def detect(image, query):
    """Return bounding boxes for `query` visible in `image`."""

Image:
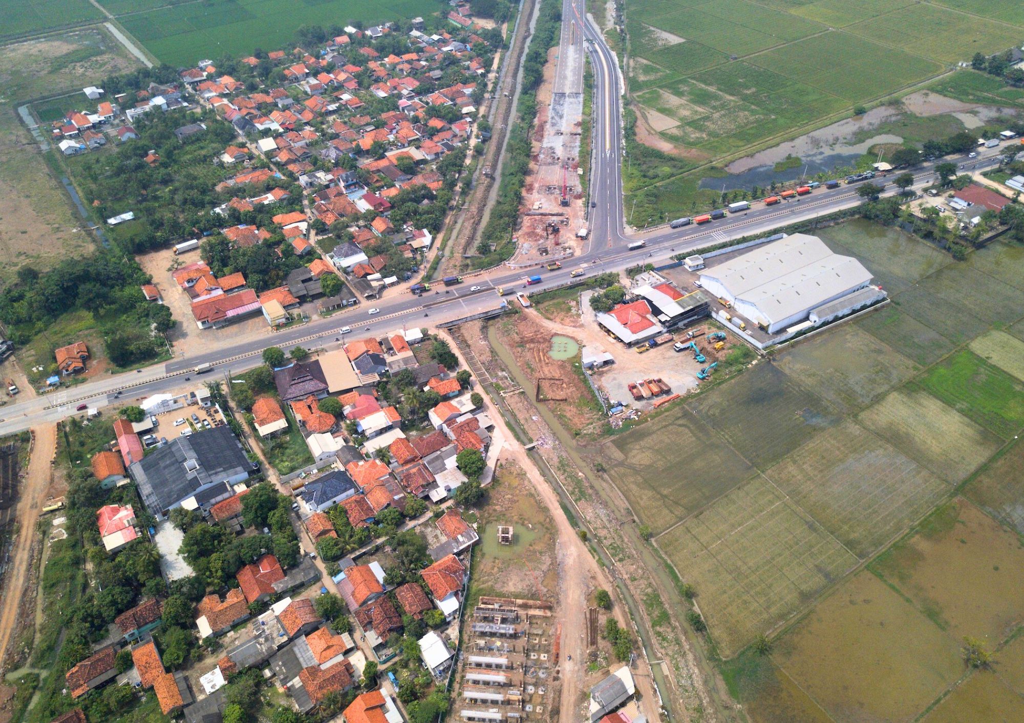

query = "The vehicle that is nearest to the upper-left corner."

[170,237,201,253]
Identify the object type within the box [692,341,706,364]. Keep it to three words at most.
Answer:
work vehicle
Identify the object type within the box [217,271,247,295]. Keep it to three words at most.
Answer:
house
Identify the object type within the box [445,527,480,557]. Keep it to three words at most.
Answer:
shed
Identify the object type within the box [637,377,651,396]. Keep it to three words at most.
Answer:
vehicle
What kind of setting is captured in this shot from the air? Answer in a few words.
residential area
